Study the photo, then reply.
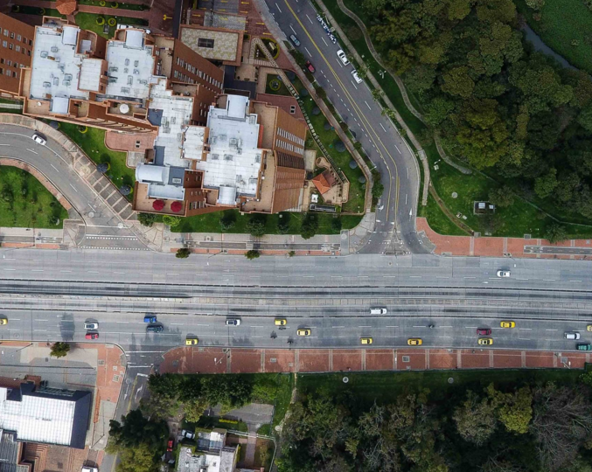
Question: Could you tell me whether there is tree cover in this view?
Yes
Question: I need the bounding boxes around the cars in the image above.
[352,70,364,84]
[361,338,373,344]
[577,344,592,351]
[297,330,311,336]
[564,333,580,339]
[147,325,163,331]
[0,318,7,326]
[180,429,197,439]
[496,270,511,276]
[185,339,199,345]
[84,323,99,329]
[476,329,492,335]
[478,339,493,345]
[337,50,349,66]
[587,326,592,332]
[86,333,99,339]
[226,318,242,325]
[274,318,287,326]
[408,339,422,345]
[305,60,315,73]
[500,321,515,328]
[290,33,300,47]
[32,133,47,145]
